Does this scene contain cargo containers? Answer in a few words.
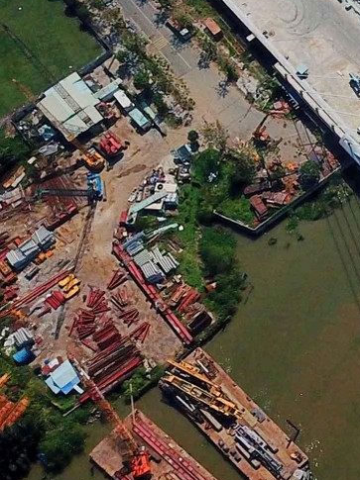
Yes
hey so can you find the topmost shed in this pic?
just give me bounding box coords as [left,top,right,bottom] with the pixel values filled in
[202,17,225,42]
